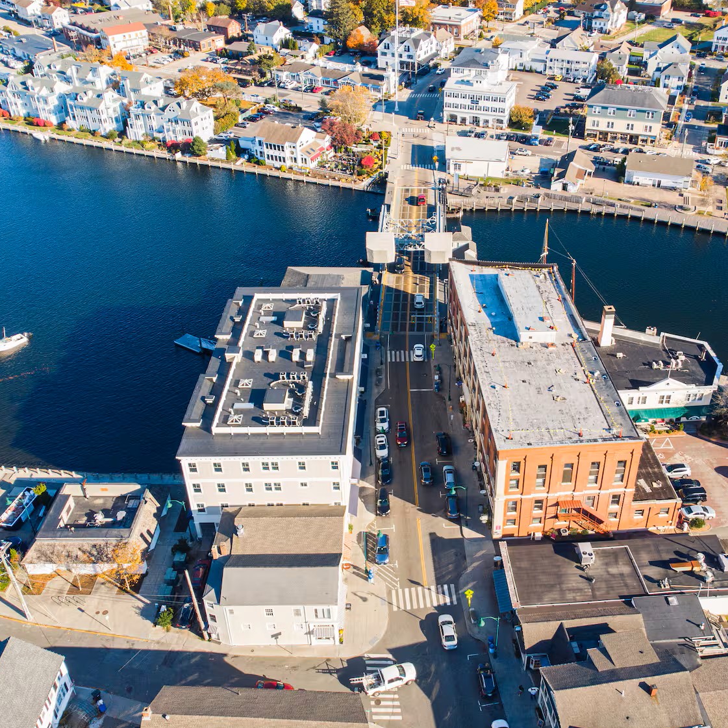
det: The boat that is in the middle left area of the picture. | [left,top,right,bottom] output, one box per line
[0,326,37,352]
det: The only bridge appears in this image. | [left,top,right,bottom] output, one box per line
[366,189,458,338]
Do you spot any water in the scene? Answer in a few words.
Yes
